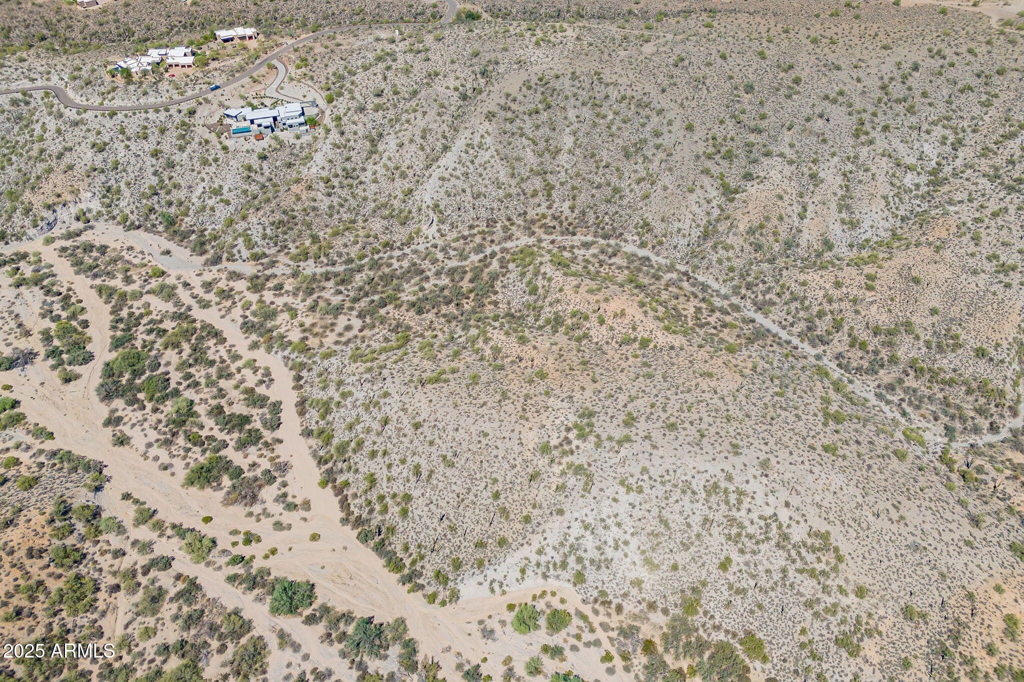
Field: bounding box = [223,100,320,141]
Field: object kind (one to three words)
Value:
house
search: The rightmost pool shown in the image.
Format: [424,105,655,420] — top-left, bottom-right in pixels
[232,125,253,138]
